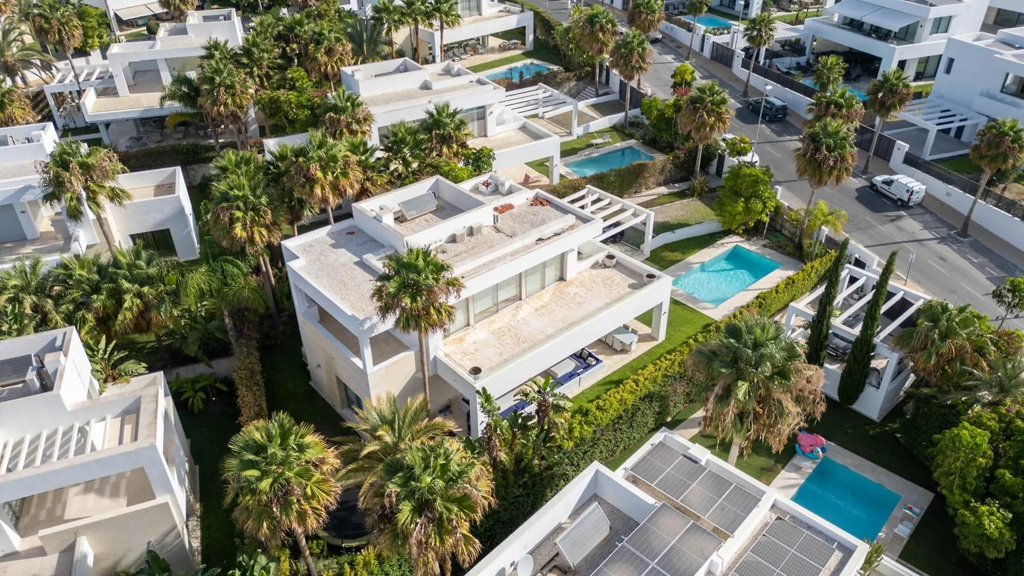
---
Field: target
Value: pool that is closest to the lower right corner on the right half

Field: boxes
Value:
[772,434,936,553]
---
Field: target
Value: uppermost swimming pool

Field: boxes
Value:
[673,11,742,29]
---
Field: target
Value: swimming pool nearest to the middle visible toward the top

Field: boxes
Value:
[557,140,648,179]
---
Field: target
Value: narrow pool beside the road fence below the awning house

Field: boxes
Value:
[785,71,867,105]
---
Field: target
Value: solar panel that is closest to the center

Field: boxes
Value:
[398,188,441,221]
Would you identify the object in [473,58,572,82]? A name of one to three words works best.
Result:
swimming pool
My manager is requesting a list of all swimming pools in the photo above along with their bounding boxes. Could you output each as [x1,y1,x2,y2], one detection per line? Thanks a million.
[473,58,572,82]
[772,434,936,553]
[661,233,806,317]
[557,140,648,179]
[673,11,742,29]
